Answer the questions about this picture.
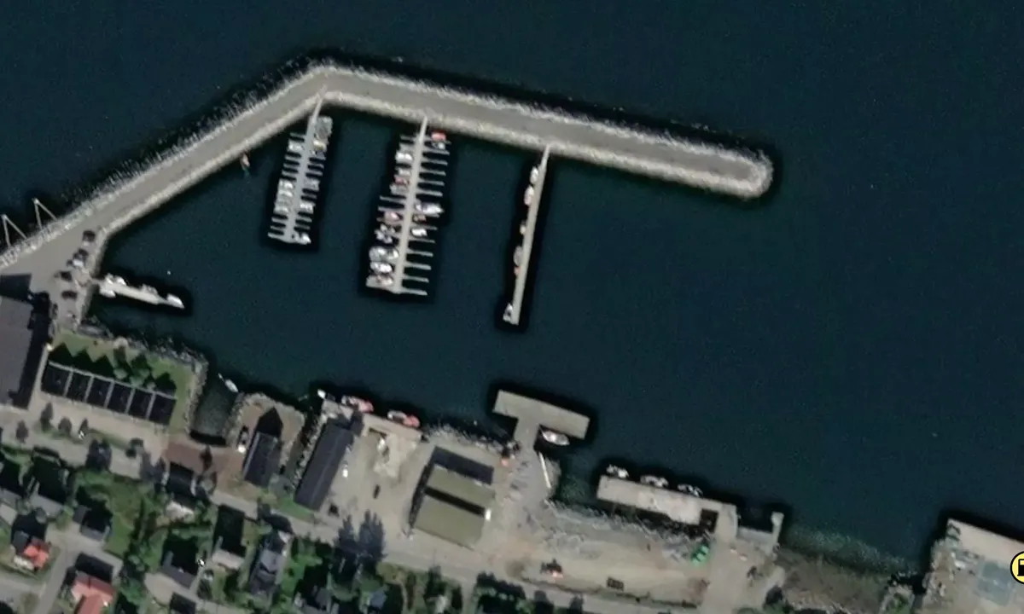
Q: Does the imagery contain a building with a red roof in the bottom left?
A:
Yes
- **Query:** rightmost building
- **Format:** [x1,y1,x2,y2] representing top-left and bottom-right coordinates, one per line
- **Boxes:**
[410,457,494,550]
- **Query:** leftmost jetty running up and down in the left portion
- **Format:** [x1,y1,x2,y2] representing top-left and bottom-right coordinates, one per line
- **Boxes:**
[268,95,323,243]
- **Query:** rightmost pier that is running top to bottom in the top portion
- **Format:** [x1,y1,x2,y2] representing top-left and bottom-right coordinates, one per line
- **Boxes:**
[511,146,549,325]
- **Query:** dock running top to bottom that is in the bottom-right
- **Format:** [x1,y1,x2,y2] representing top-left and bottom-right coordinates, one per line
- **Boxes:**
[770,512,784,551]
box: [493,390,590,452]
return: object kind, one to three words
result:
pier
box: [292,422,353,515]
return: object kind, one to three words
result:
shed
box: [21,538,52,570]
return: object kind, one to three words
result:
house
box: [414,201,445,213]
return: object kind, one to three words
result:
boat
